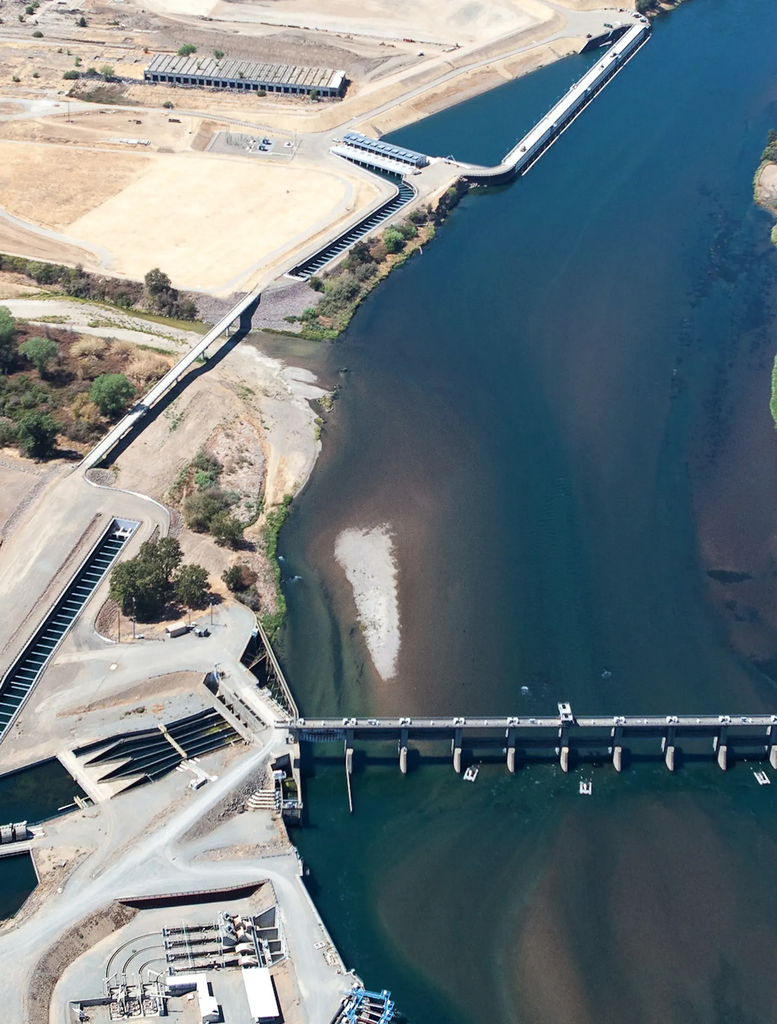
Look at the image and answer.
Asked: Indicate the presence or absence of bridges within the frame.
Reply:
Yes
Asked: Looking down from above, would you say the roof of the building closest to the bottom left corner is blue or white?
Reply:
white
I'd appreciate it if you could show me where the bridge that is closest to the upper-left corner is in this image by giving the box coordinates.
[64,285,262,537]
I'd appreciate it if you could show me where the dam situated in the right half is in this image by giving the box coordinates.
[289,713,777,783]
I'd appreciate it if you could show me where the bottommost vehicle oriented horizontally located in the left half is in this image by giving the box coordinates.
[186,777,209,789]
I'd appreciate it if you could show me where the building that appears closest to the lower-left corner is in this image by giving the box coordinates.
[166,974,219,1024]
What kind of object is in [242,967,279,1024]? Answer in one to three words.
building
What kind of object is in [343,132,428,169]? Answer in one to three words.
building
